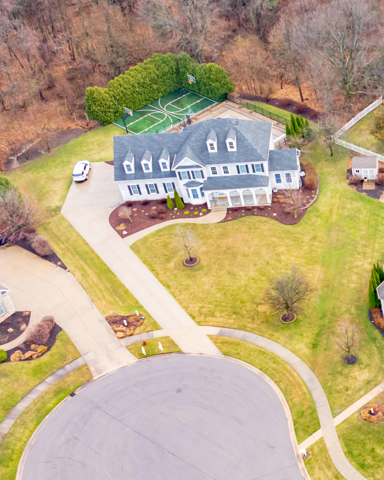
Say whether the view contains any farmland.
No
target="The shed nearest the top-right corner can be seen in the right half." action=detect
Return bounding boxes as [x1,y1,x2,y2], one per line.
[351,155,383,185]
